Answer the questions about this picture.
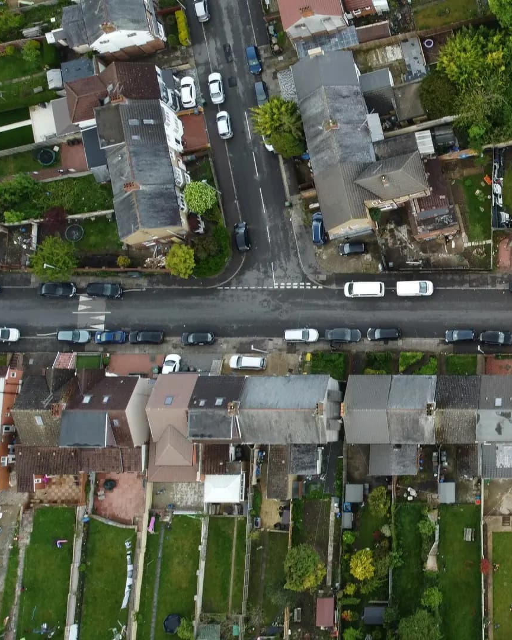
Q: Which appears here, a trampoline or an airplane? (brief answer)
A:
trampoline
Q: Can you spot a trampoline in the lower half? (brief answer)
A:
Yes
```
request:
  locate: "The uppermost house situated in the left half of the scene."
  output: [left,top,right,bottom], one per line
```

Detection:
[47,0,170,61]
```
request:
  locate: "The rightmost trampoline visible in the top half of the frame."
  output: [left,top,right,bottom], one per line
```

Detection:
[66,223,87,242]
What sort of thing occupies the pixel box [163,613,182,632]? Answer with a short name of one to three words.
trampoline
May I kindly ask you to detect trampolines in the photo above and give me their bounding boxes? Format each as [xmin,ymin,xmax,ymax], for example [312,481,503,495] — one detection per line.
[163,613,182,632]
[31,146,58,166]
[66,223,87,242]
